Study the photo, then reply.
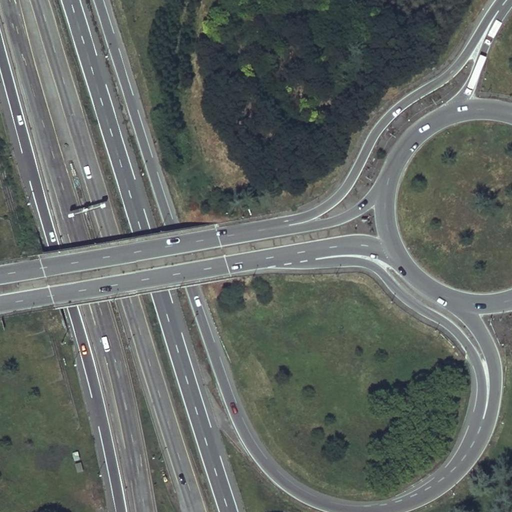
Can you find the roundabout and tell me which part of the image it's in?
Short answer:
right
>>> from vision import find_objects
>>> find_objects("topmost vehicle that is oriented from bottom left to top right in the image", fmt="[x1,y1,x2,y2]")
[484,18,504,46]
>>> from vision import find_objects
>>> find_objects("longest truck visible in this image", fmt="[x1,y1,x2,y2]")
[464,54,487,96]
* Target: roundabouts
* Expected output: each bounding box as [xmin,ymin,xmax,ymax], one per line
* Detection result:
[374,98,512,318]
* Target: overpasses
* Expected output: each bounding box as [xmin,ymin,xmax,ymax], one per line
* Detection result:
[36,225,232,331]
